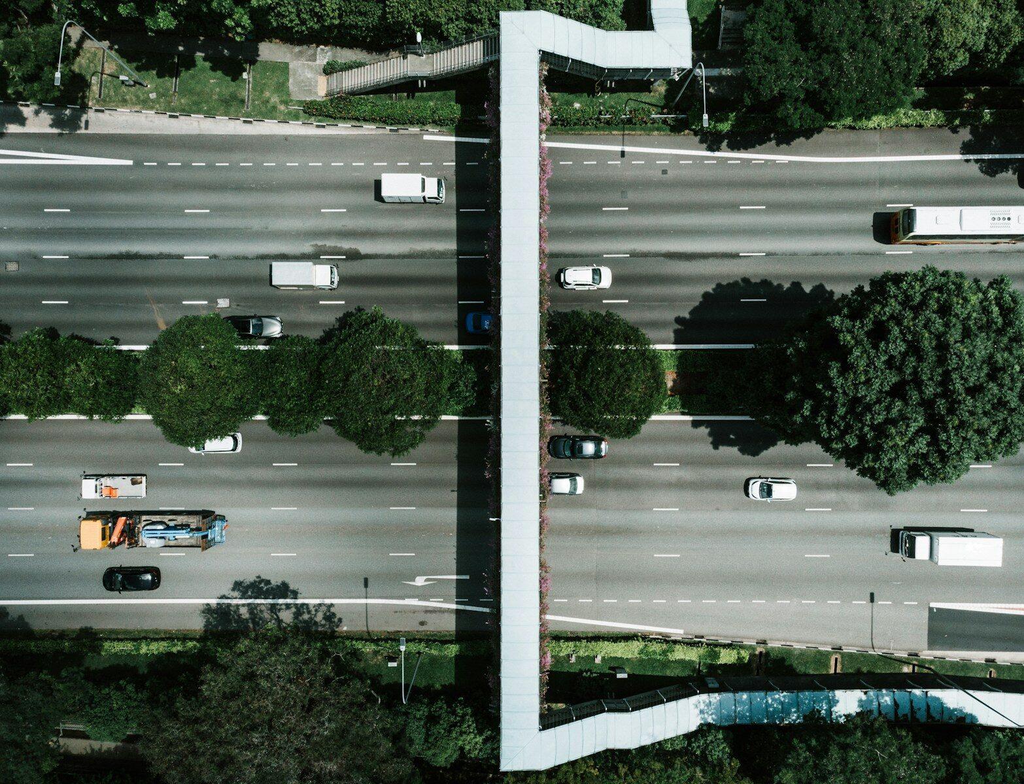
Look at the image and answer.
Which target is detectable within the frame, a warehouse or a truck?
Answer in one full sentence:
The one in the frame is a truck.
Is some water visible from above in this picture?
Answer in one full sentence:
No, the picture contains no water.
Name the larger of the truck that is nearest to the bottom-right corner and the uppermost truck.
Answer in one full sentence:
Compared with the uppermost truck, the truck that is nearest to the bottom-right corner is the larger one.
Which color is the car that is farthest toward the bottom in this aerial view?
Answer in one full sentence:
The car that is farthest toward the bottom looks black in the image.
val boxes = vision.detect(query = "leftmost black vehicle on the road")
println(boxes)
[103,567,162,595]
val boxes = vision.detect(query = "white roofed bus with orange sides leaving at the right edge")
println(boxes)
[890,206,1024,243]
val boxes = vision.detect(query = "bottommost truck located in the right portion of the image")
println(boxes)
[895,531,1005,567]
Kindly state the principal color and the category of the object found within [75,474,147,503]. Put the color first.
white truck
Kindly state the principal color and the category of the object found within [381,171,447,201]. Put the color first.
white truck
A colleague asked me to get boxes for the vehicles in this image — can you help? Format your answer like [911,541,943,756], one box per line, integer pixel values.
[223,312,282,339]
[895,531,1005,567]
[188,432,242,456]
[546,472,585,495]
[103,567,162,595]
[270,261,341,290]
[549,434,609,461]
[558,263,614,289]
[890,206,1024,243]
[75,474,147,503]
[381,171,447,201]
[81,513,212,551]
[465,311,494,334]
[747,477,801,503]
